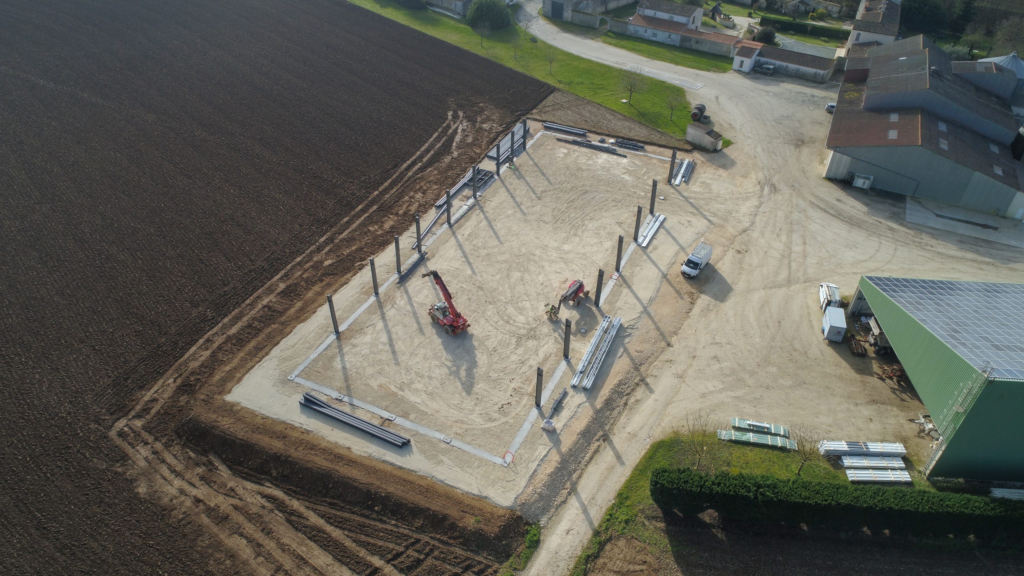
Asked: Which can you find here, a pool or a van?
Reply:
van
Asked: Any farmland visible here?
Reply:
Yes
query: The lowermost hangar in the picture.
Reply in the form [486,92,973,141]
[848,274,1024,484]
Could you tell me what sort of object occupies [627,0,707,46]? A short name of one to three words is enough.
house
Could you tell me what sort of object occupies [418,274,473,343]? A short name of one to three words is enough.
work vehicle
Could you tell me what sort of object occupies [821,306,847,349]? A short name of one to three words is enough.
trailer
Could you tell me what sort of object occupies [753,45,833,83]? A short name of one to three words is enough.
shed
